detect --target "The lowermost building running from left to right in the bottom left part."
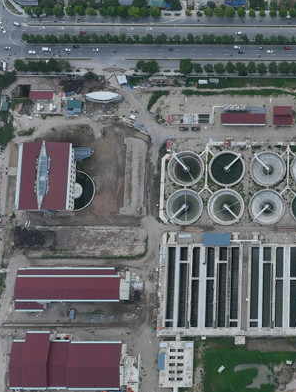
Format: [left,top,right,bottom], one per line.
[8,332,127,390]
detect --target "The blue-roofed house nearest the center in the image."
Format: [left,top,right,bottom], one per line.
[204,232,231,245]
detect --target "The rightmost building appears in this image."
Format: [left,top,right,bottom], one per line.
[273,105,292,127]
